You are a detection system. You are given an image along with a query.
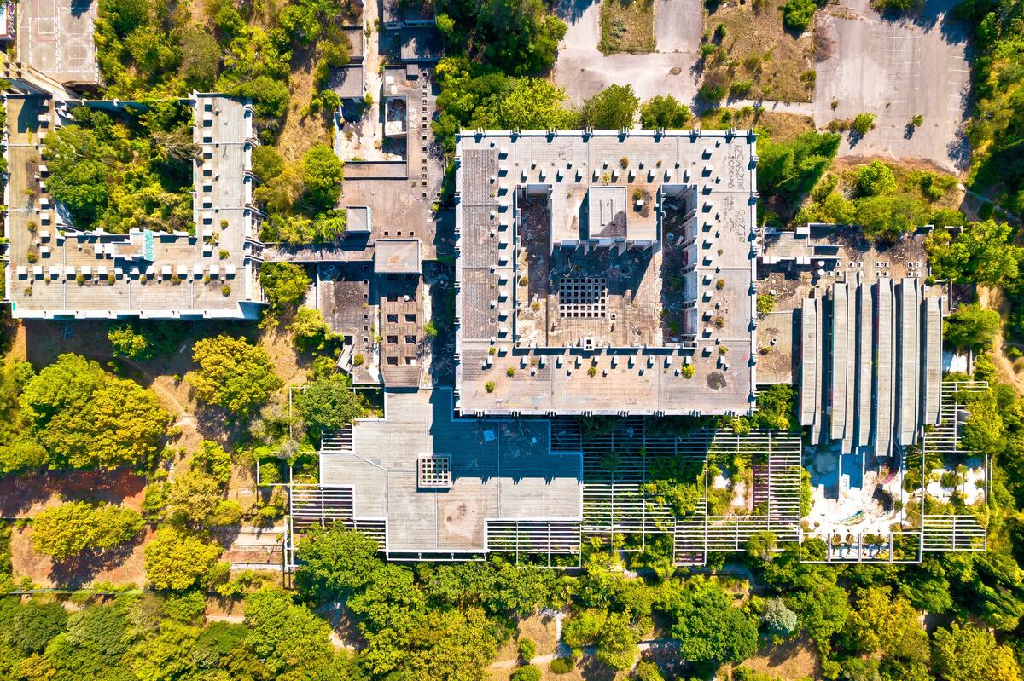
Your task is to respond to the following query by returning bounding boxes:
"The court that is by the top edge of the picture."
[15,0,97,81]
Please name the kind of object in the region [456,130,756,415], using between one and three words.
building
